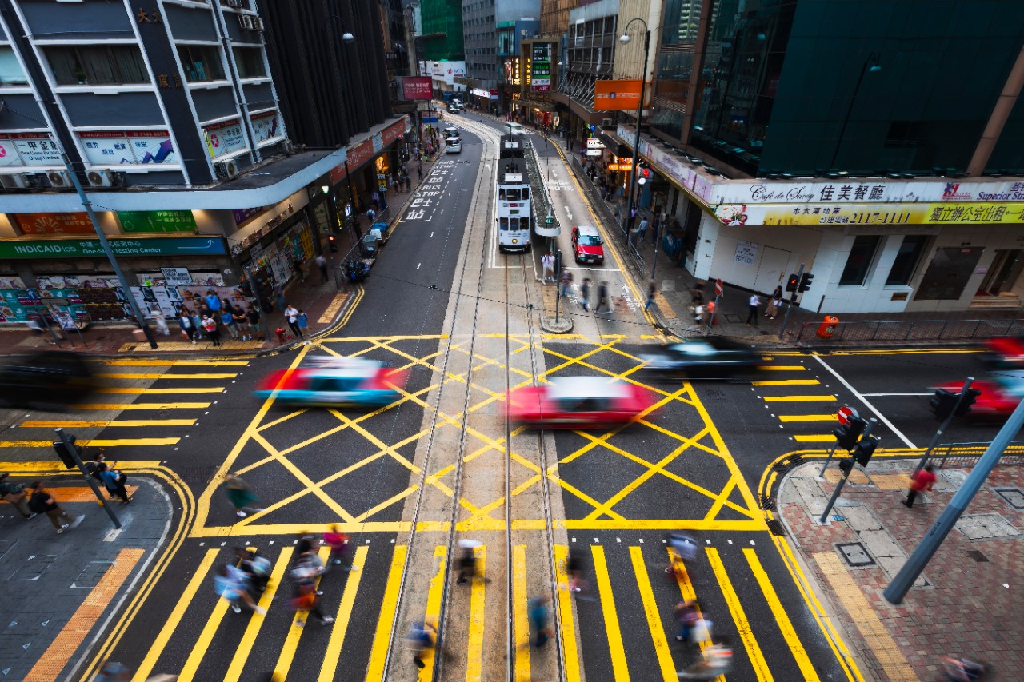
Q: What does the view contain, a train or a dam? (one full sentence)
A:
I can see a train in this picture.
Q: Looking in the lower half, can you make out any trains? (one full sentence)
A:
No, the scene shows no train in the lower half.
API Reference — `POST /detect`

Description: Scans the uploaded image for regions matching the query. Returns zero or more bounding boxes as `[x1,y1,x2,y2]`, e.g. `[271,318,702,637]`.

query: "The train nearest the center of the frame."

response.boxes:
[496,138,534,249]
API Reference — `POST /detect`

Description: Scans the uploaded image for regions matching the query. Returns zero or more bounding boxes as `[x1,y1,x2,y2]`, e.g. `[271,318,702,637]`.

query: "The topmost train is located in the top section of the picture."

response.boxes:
[501,117,526,157]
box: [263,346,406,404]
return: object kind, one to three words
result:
car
